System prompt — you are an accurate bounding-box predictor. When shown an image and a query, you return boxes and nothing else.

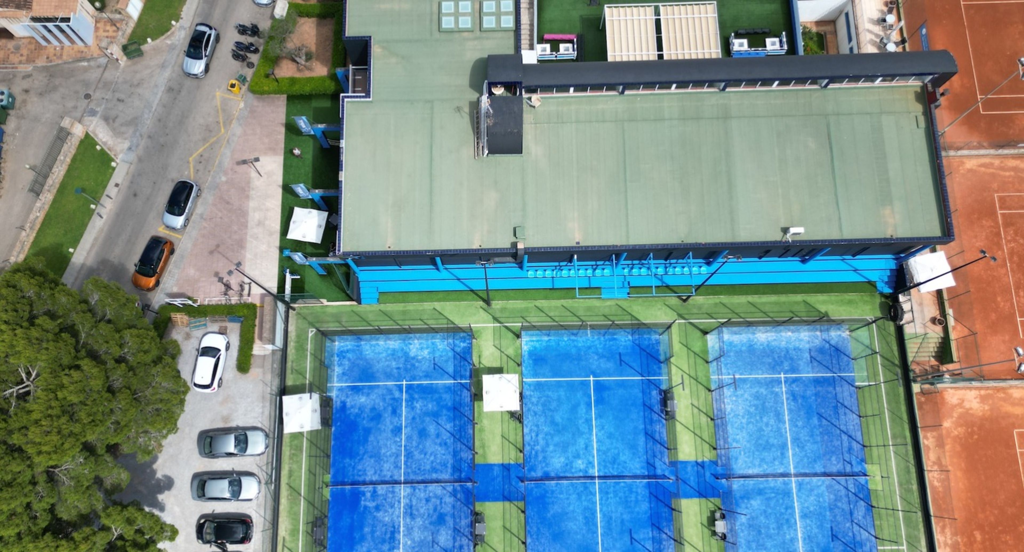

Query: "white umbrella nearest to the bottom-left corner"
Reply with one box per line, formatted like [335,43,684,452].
[283,393,321,433]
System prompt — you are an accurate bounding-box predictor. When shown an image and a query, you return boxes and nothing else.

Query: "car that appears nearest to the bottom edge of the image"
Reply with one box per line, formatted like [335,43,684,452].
[195,517,254,552]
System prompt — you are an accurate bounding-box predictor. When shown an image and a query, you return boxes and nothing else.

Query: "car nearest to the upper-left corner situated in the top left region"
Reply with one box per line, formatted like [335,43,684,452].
[181,23,218,77]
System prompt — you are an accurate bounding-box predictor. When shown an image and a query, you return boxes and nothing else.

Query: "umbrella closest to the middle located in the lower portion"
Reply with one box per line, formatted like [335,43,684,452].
[483,374,519,411]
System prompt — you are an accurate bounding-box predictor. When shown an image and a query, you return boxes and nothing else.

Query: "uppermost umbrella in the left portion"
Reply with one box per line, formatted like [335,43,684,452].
[287,207,329,244]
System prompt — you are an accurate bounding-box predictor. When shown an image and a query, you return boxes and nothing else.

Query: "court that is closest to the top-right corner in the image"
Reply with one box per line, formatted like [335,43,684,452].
[898,0,1024,133]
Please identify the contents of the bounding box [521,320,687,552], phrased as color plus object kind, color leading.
blue sports court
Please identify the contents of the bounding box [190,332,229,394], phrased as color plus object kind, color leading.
white car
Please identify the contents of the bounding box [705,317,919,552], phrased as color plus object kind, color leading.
blue sports court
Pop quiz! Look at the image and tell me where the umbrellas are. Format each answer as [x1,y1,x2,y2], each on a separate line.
[287,207,329,244]
[908,251,955,293]
[283,393,321,433]
[483,374,519,411]
[882,20,903,43]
